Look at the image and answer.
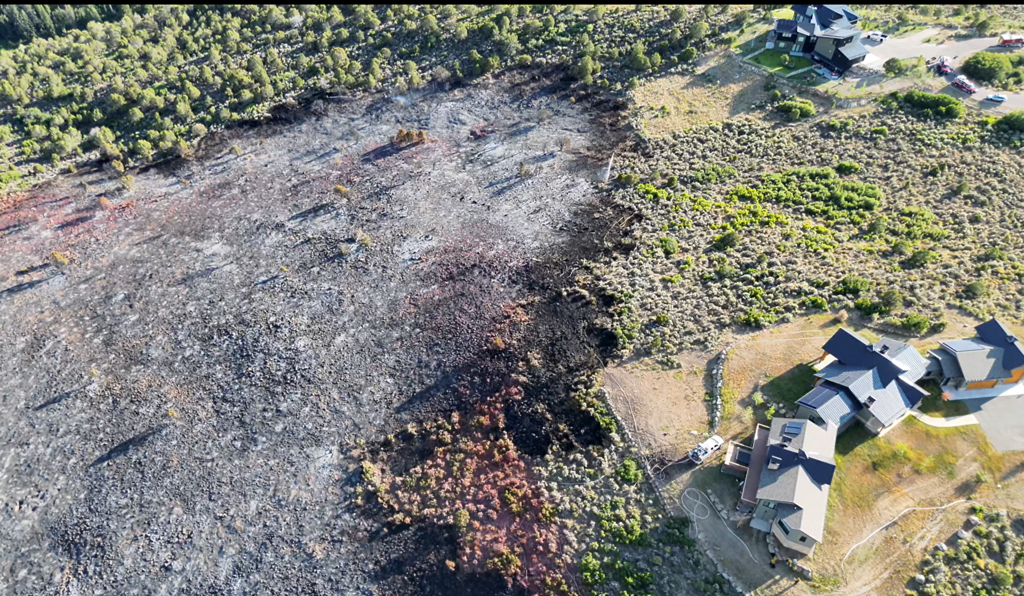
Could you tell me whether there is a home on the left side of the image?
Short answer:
No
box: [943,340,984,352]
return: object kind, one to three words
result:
solar panel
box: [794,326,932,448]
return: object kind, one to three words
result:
house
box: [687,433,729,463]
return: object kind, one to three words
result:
truck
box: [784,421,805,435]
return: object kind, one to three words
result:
solar panel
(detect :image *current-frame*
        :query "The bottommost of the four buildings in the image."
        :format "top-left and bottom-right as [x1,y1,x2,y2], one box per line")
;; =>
[720,418,843,555]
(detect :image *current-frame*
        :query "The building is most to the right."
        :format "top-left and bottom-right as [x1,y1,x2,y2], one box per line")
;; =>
[918,318,1024,393]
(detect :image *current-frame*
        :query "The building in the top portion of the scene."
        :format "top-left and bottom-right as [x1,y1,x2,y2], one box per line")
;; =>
[764,0,866,82]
